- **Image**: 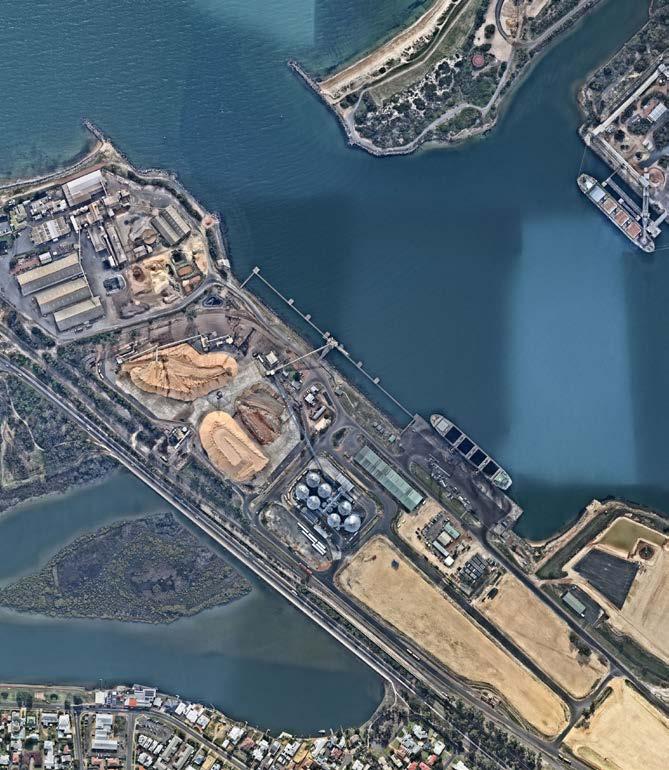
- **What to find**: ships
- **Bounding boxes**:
[576,173,654,251]
[431,416,515,490]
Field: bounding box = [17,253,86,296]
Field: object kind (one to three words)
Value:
shed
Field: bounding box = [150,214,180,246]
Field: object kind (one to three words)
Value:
shed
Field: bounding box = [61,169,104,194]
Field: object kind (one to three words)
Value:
building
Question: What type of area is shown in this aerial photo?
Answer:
port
